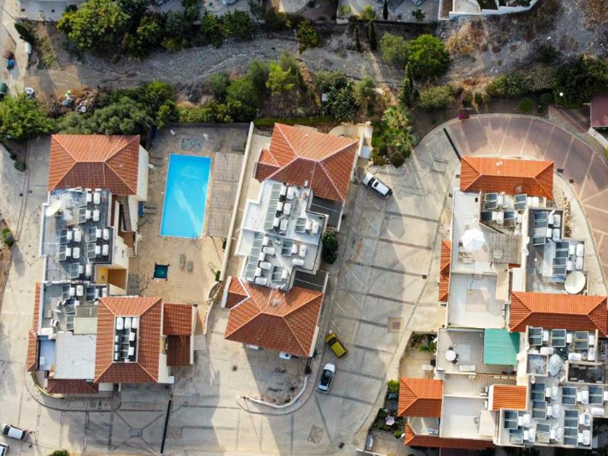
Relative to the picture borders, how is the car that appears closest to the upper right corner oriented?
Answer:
at an angle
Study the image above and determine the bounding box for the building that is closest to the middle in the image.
[221,122,359,357]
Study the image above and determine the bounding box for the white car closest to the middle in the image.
[362,172,392,198]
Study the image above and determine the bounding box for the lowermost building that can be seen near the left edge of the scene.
[27,134,198,394]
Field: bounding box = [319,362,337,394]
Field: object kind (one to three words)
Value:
car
